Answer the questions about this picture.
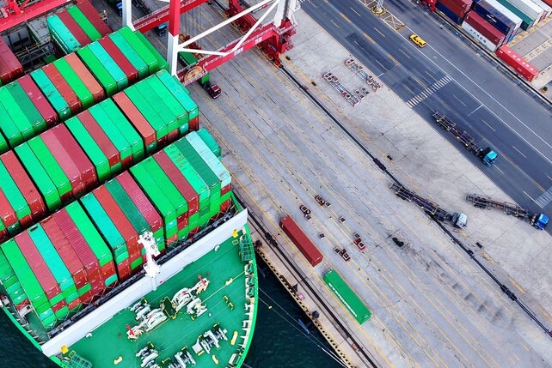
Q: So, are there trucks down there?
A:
Yes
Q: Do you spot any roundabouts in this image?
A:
No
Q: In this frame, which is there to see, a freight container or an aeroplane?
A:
freight container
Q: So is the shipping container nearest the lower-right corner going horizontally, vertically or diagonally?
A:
diagonally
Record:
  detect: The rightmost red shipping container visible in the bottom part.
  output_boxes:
[279,216,323,267]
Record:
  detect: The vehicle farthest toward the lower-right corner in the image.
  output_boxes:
[472,192,546,229]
